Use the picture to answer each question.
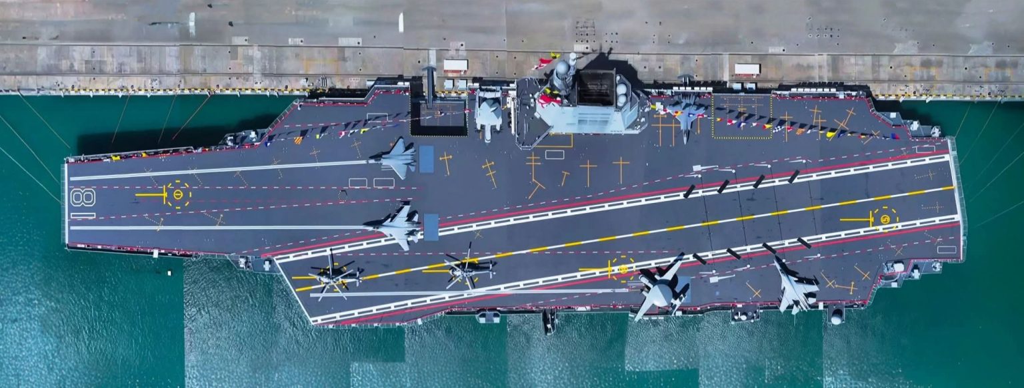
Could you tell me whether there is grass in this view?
No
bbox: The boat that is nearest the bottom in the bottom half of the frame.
[543,310,556,336]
